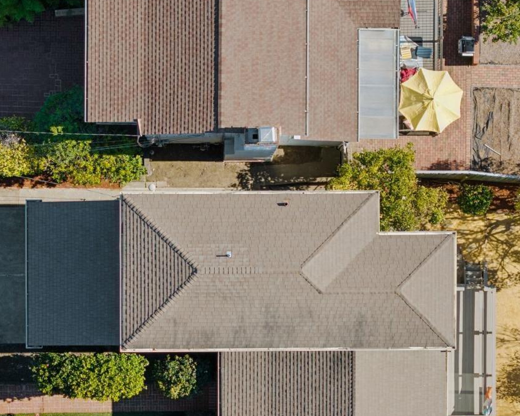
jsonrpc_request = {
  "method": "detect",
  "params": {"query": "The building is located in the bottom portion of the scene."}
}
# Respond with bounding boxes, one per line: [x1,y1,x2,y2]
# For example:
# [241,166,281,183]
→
[23,188,461,416]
